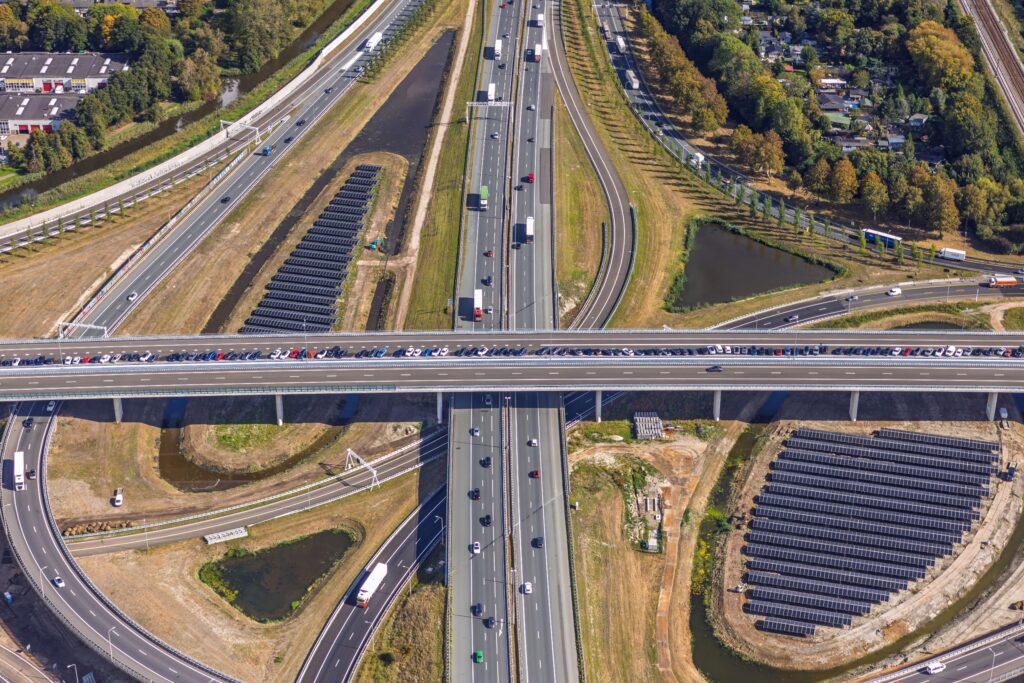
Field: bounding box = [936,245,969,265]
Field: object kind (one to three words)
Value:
vehicle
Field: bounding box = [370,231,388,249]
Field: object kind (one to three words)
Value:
work vehicle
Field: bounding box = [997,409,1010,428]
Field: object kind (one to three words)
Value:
vehicle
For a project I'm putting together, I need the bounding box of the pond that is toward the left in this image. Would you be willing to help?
[211,532,352,621]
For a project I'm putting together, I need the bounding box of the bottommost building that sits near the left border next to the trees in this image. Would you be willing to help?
[0,93,85,135]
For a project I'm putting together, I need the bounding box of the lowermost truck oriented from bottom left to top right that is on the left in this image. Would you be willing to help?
[355,563,388,608]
